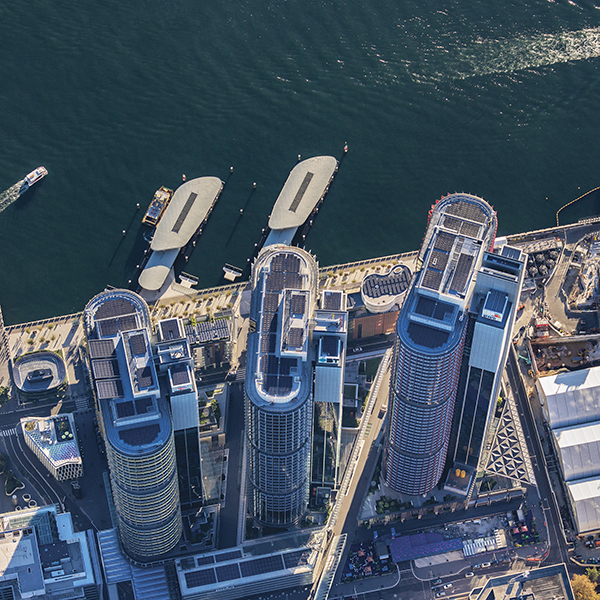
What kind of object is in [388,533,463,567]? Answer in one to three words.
building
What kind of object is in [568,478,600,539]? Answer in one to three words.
shed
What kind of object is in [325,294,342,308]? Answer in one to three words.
solar array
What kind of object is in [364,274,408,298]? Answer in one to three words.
solar array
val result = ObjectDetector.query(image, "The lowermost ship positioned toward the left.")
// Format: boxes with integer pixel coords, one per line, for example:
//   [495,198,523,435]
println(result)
[142,186,172,227]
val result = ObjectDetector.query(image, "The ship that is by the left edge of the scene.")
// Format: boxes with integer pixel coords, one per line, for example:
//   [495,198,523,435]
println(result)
[25,168,47,186]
